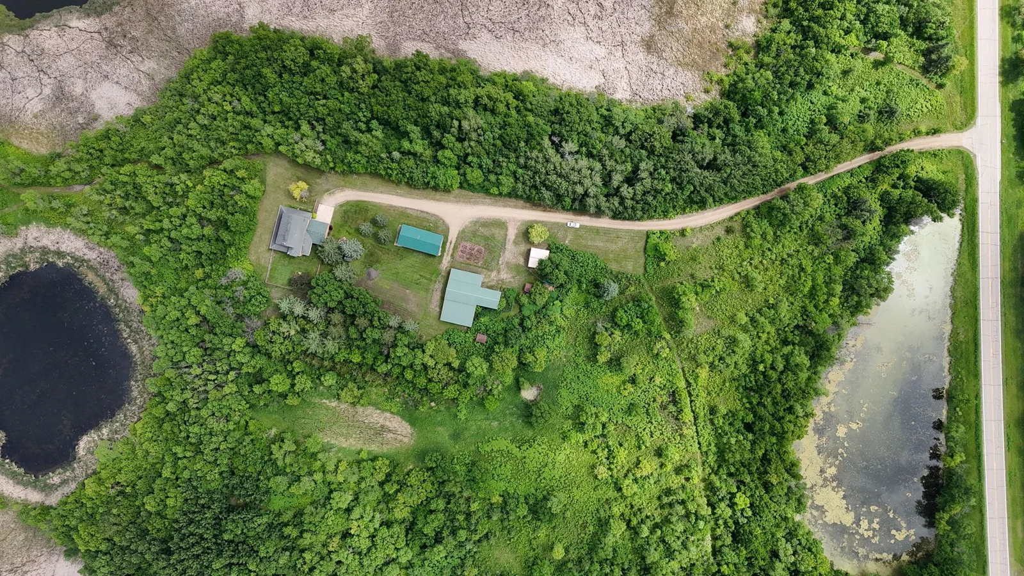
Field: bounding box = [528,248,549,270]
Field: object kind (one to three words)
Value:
shed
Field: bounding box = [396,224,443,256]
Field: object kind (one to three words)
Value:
shed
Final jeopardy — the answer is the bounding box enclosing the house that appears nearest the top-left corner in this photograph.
[270,205,329,257]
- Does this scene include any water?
Yes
